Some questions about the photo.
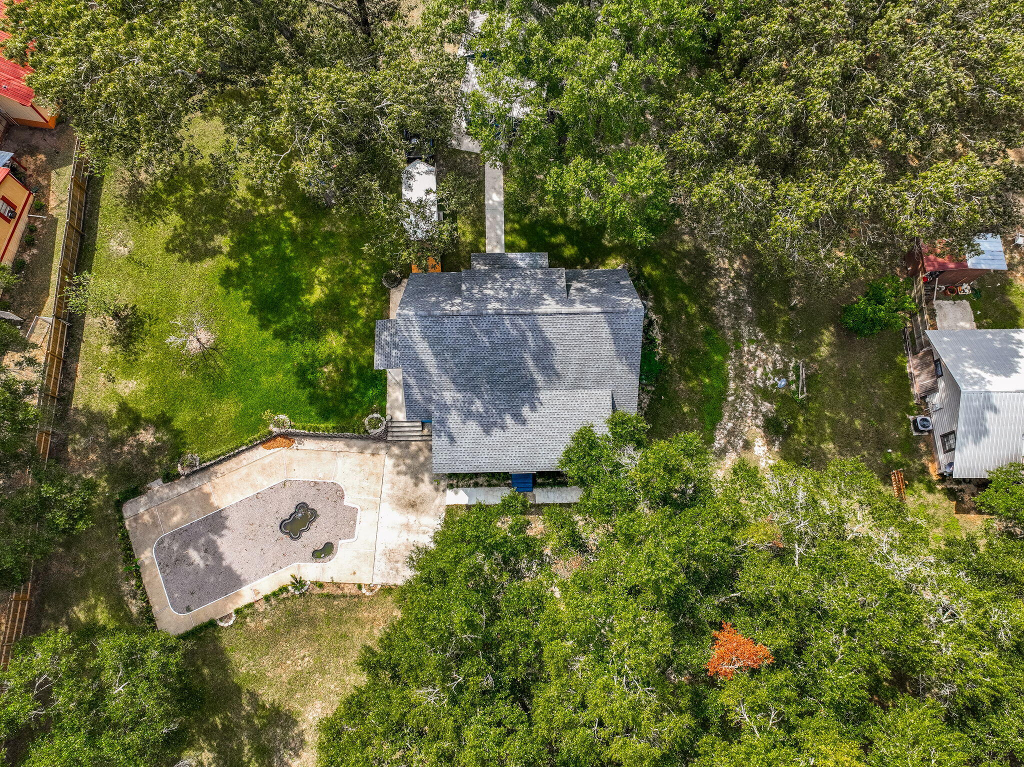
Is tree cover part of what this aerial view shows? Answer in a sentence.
Yes, the picture does contain tree cover.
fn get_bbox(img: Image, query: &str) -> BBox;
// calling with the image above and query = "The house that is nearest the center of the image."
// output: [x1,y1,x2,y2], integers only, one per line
[373,253,648,500]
